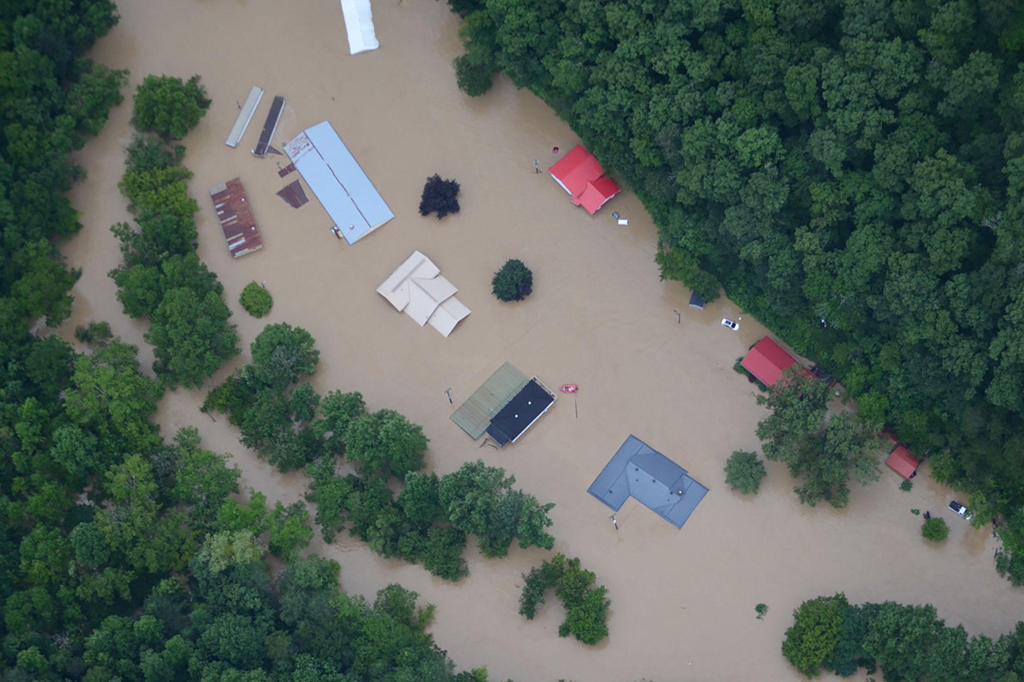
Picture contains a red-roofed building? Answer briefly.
Yes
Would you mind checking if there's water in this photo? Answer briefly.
Yes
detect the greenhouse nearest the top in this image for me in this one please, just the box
[342,0,378,54]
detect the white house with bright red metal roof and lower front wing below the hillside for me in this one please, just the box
[548,144,621,215]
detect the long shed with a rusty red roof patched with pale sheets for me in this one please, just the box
[210,177,263,258]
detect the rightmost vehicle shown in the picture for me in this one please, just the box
[945,498,972,522]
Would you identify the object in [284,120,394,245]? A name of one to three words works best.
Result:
barn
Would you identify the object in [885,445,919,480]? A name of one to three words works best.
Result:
building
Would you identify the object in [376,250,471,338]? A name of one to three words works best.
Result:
house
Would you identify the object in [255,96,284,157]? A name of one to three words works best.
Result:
trailer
